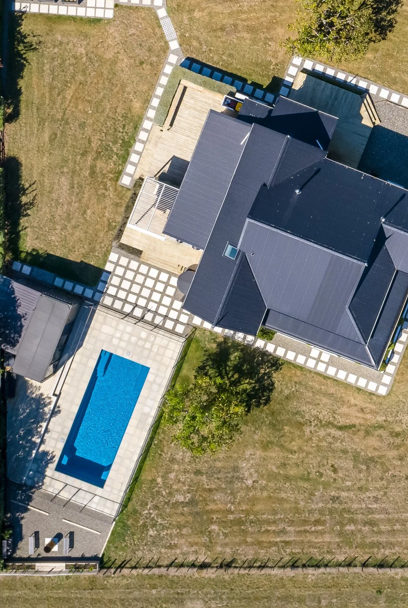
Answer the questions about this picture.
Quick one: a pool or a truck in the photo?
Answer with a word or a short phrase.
pool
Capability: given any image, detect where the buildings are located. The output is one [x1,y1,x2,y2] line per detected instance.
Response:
[163,95,408,373]
[0,274,83,384]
